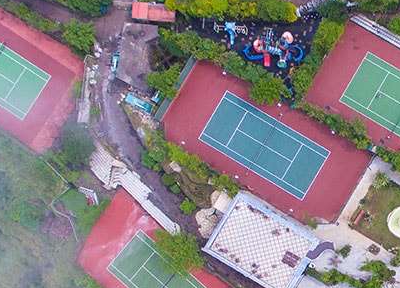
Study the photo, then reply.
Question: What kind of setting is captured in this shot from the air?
sports ground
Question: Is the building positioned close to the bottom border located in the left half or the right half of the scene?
right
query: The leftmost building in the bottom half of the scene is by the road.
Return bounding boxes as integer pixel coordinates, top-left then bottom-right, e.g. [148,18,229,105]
[201,189,335,288]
